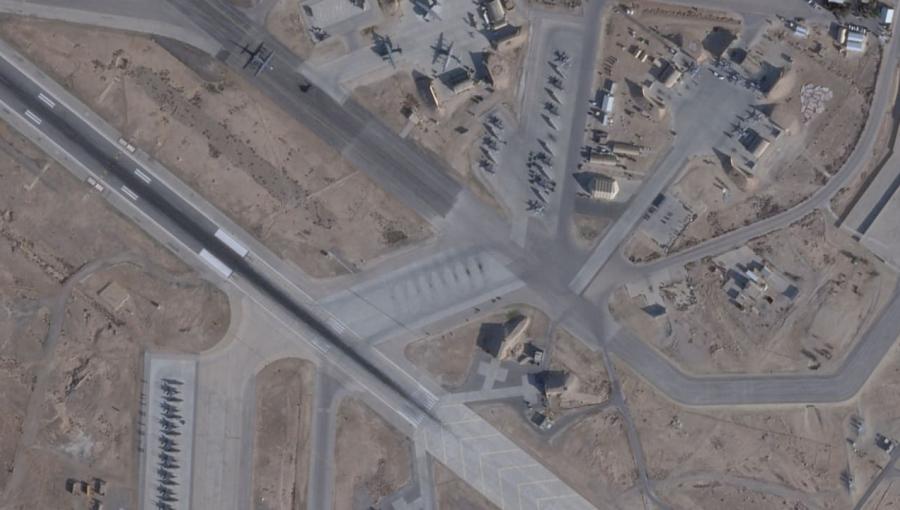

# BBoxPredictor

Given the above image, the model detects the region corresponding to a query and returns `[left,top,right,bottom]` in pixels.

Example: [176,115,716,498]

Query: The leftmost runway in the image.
[0,53,257,285]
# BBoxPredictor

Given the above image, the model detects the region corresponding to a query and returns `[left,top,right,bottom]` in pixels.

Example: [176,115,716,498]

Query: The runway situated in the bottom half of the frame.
[231,253,434,426]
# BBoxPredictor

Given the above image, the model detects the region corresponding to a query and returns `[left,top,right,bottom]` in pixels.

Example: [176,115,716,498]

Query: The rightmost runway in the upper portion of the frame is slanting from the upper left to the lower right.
[150,0,465,219]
